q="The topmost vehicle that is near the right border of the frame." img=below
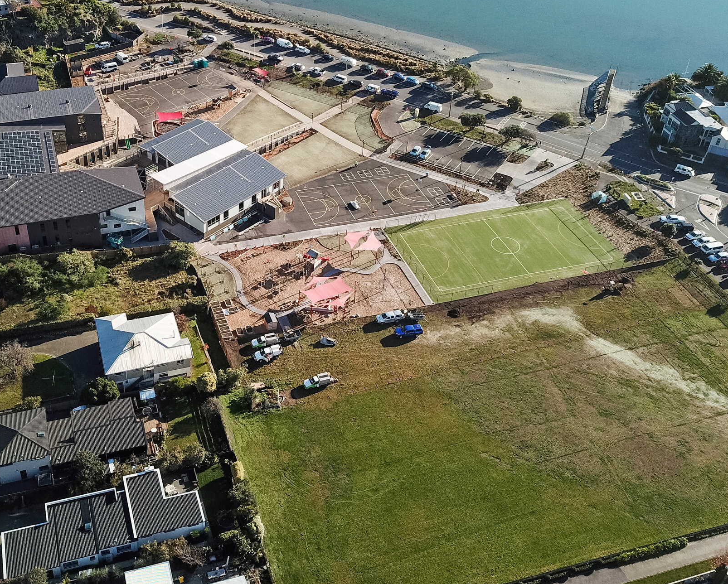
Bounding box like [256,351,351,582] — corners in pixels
[674,164,695,176]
